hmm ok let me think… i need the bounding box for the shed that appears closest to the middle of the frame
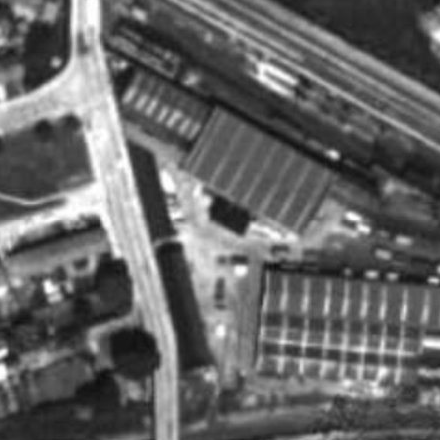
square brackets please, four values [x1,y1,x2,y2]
[204,191,248,231]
